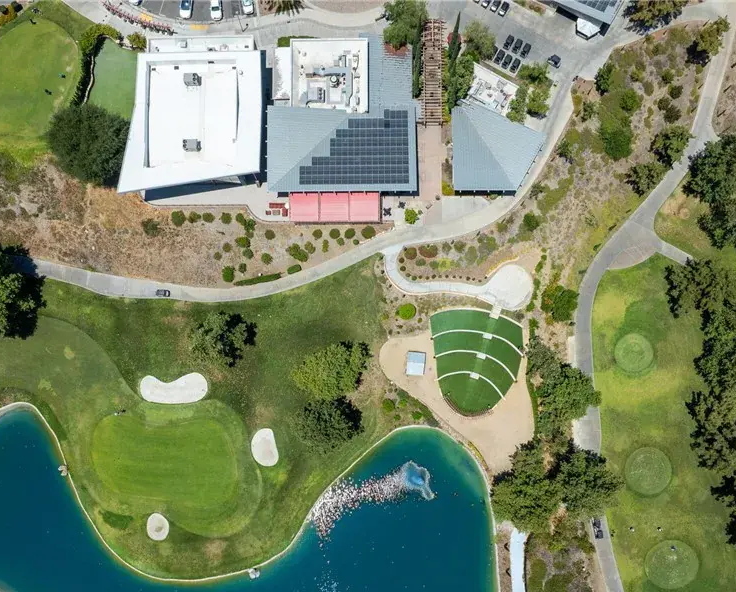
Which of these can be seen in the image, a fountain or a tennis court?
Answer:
fountain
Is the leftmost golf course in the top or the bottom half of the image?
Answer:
bottom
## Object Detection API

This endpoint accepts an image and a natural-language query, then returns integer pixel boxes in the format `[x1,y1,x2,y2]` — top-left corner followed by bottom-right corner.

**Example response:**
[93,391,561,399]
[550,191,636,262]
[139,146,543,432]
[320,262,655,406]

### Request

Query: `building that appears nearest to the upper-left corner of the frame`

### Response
[118,35,266,201]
